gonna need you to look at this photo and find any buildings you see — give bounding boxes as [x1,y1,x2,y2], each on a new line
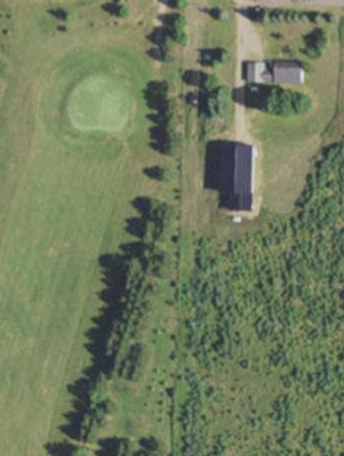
[219,145,256,210]
[248,60,303,84]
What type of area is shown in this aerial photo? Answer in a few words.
golf course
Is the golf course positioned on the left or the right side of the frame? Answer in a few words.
left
